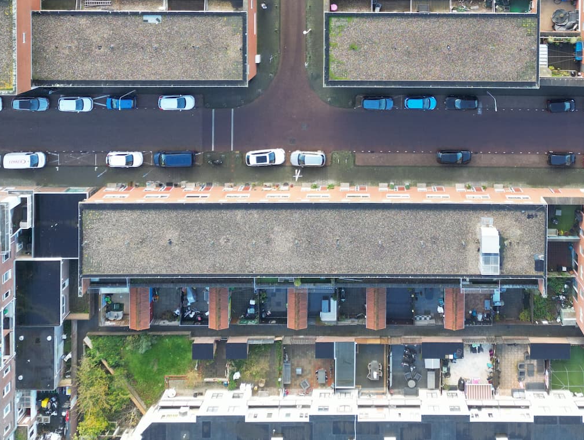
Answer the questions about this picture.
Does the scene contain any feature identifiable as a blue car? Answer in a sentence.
Yes, the frame does contain a blue car.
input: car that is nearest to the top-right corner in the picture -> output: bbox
[545,98,575,115]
